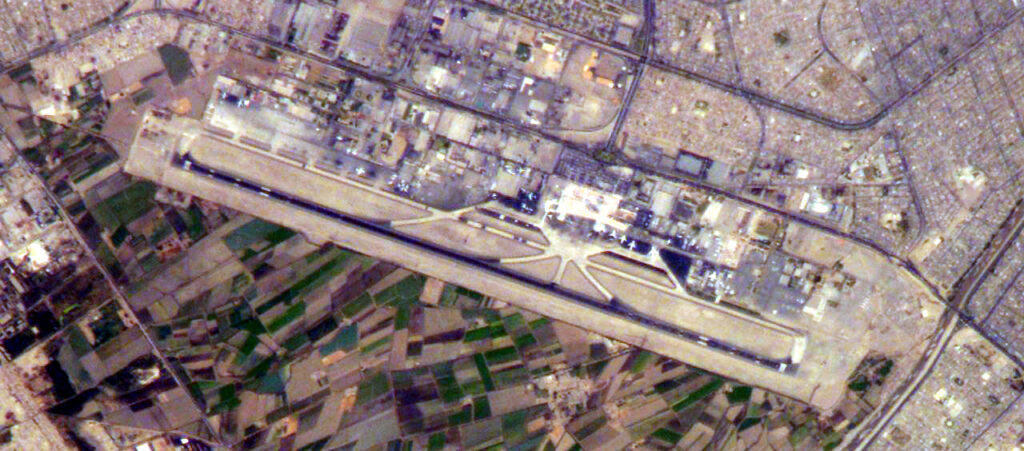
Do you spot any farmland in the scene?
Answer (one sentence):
Yes, there is farmland in the image.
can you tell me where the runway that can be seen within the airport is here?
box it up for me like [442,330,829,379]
[170,151,801,377]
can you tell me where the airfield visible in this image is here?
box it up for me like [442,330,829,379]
[125,74,866,408]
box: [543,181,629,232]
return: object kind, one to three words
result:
building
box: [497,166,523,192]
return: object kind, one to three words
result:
building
